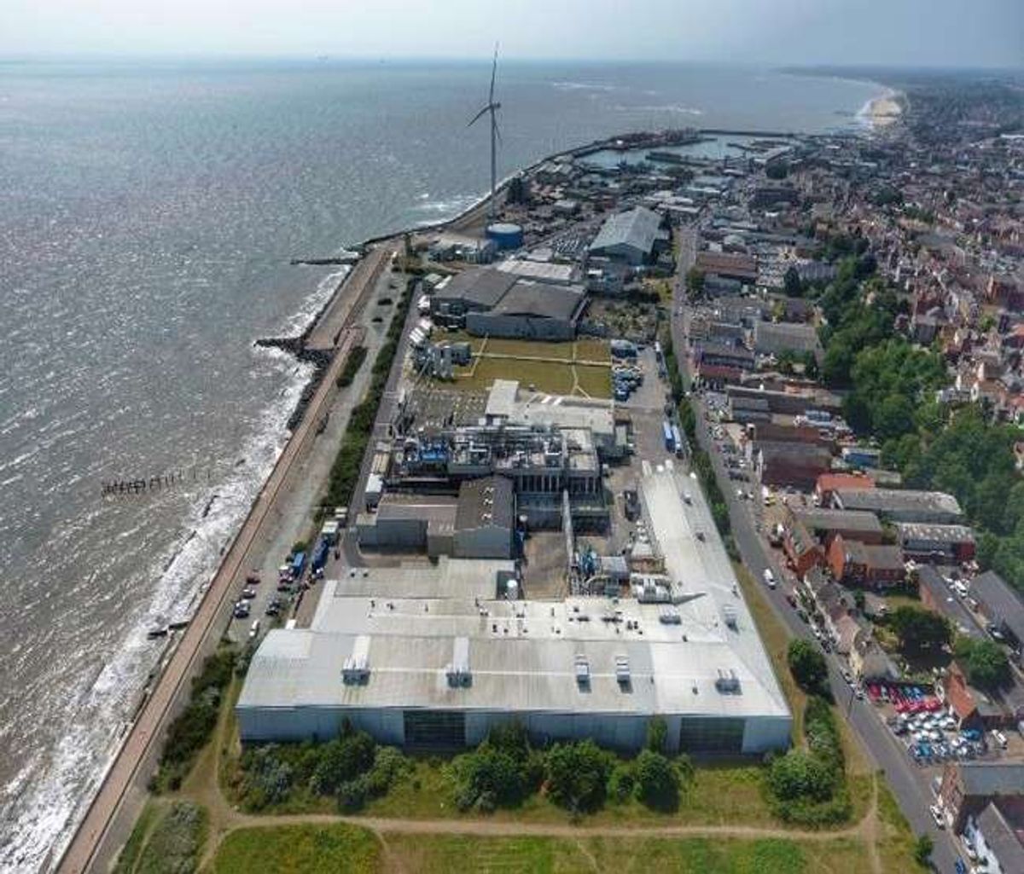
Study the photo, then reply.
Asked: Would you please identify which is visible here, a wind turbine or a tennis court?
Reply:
wind turbine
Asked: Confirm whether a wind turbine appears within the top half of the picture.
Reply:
Yes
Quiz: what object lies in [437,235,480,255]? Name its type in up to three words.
shed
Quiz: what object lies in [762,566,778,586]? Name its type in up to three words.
vehicle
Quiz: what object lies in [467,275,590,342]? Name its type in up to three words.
building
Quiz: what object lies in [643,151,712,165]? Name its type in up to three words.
pier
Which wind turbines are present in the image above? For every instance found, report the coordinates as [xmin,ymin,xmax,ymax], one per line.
[465,41,502,226]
